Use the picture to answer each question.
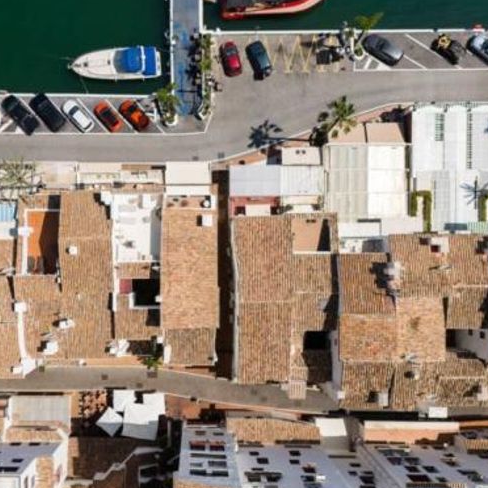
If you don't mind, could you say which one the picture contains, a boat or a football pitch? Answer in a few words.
boat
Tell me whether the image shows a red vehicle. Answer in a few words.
Yes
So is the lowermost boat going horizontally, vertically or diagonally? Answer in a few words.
horizontally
